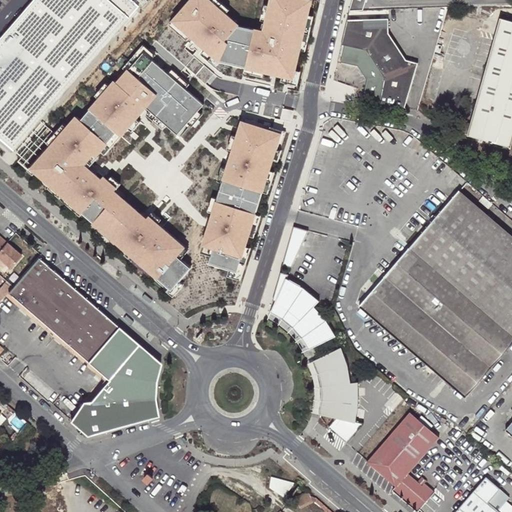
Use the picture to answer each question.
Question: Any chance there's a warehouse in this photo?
Yes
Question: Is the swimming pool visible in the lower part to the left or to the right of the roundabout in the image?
left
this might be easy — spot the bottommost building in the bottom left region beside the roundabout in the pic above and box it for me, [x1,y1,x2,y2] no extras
[72,328,163,438]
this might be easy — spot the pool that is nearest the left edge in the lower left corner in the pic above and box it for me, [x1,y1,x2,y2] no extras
[8,412,29,434]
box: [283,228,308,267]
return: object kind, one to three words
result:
shed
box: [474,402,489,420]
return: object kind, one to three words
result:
vehicle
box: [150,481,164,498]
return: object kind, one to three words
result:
vehicle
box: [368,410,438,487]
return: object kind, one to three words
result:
building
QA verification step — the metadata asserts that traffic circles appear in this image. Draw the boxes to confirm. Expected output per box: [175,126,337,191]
[176,338,292,456]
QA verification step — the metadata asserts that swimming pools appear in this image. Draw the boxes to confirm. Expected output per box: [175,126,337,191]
[101,62,111,72]
[8,412,29,434]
